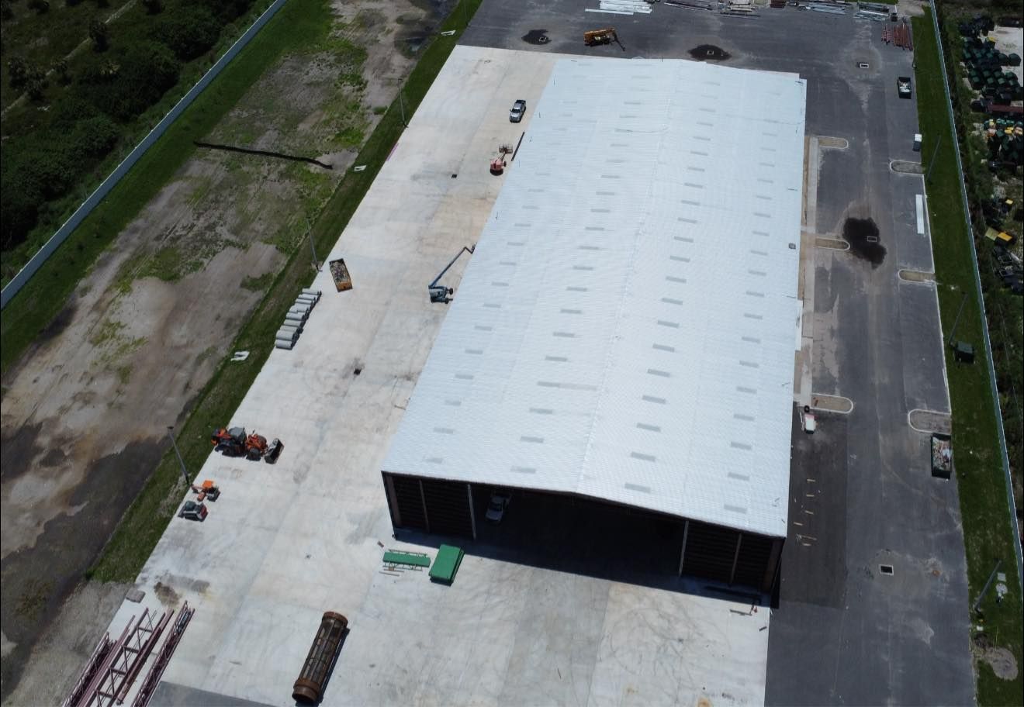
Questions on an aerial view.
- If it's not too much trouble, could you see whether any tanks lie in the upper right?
No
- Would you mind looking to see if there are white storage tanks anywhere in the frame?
No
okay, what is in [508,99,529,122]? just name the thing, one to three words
truck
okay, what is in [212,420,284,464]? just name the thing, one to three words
work vehicle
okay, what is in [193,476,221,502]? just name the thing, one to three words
work vehicle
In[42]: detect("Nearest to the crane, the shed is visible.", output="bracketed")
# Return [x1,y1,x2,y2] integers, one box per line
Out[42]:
[380,59,807,591]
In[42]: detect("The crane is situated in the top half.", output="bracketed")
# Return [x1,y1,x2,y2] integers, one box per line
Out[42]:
[585,23,625,49]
